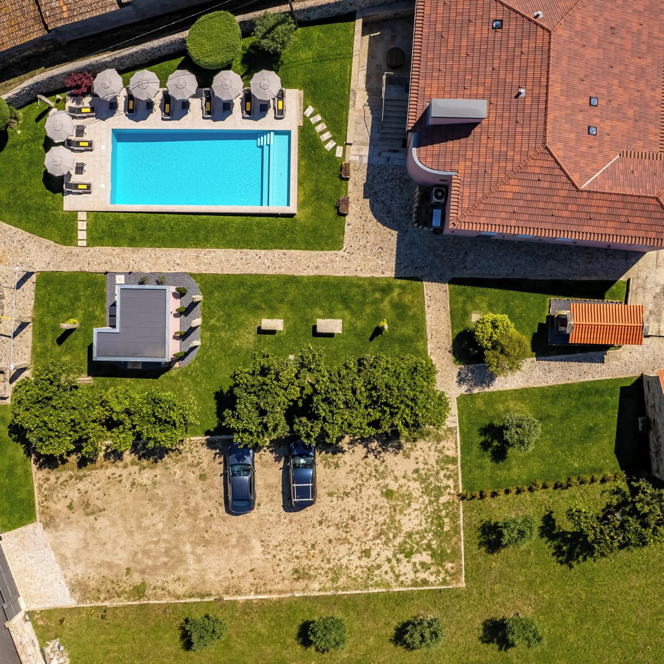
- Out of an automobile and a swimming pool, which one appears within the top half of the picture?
swimming pool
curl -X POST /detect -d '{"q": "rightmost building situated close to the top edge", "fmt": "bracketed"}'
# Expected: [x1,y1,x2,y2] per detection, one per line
[404,0,664,250]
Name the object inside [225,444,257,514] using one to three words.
car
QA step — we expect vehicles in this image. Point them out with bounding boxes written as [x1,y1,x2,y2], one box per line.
[286,440,318,511]
[225,444,257,514]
